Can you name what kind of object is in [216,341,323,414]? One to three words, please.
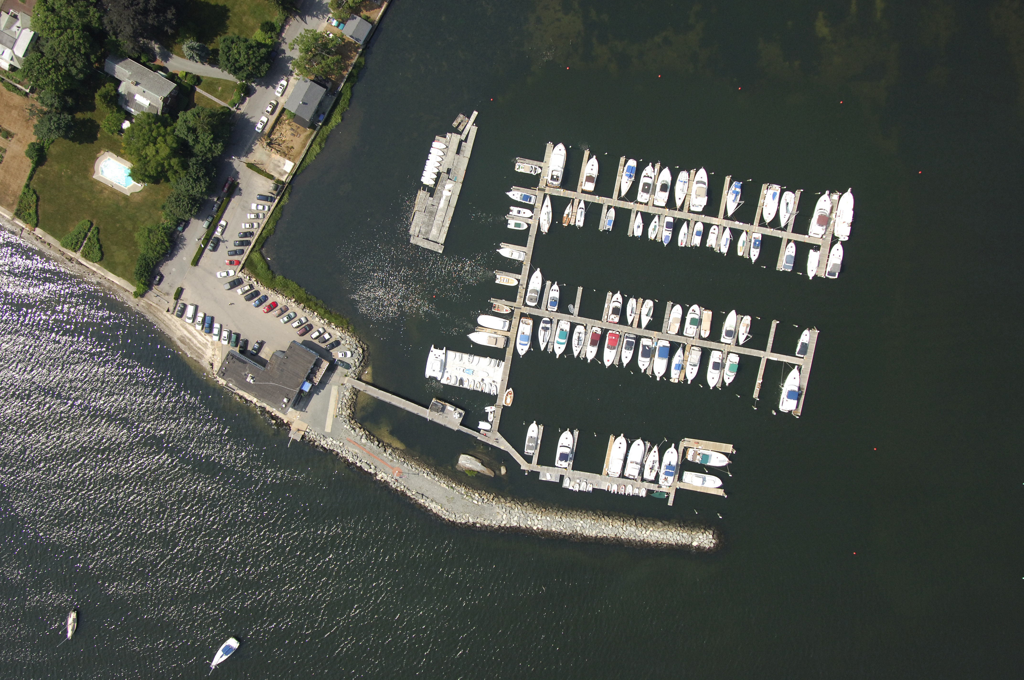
building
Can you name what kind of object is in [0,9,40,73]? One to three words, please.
house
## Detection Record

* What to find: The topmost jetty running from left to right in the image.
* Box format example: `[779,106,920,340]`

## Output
[543,151,839,276]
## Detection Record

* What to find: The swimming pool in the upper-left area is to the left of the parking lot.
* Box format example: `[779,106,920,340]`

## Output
[93,151,144,195]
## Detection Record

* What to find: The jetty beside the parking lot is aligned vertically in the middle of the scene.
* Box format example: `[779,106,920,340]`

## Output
[477,143,553,431]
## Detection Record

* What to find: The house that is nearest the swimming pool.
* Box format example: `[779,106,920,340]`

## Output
[104,56,180,117]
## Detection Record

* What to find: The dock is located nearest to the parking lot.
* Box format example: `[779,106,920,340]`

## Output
[345,377,466,431]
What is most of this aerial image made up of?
water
